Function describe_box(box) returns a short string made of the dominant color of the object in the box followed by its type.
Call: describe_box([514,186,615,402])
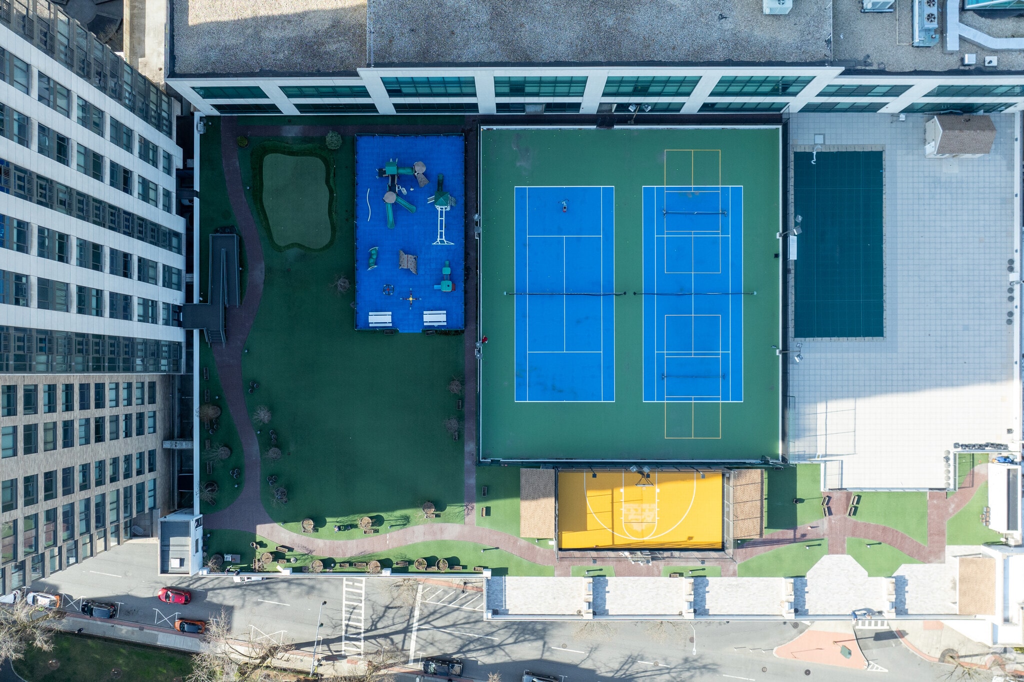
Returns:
blue tennis court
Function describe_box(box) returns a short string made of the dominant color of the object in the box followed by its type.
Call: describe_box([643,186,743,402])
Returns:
blue tennis court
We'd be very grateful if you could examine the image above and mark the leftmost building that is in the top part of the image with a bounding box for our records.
[0,0,194,375]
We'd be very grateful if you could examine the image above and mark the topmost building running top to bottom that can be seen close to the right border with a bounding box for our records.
[989,464,1024,543]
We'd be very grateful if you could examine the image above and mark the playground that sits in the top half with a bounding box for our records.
[356,136,464,333]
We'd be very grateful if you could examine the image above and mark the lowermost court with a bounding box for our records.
[556,465,726,551]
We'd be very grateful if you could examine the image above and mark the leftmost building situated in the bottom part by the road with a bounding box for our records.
[0,375,172,598]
